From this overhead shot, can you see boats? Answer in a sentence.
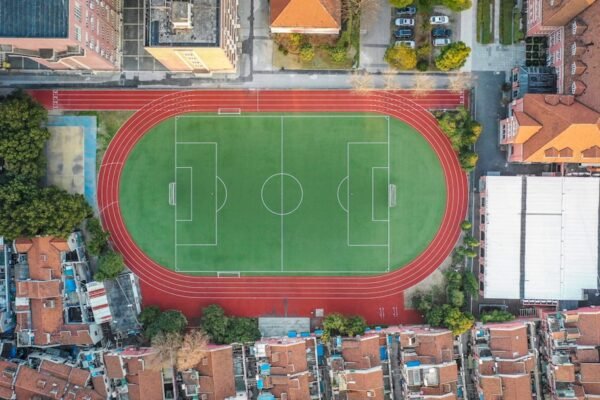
No, there isn't any boat down there.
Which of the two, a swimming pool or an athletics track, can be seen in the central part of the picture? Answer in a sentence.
Looking in the central part of the picture, you will find an athletics track.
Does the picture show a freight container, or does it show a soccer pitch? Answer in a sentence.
I can see a soccer pitch in this picture.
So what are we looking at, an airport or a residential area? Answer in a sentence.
This looks like a residential area.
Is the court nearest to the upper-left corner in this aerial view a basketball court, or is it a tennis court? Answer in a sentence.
The court nearest to the upper-left corner in the image is a basketball court.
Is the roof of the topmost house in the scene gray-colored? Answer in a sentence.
No, the roof of the topmost house is orange.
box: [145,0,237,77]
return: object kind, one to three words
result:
building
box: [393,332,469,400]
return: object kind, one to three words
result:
house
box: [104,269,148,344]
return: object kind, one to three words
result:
building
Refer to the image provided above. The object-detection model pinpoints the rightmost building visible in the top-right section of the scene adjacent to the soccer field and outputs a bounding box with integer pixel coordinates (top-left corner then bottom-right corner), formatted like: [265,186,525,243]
[500,0,600,163]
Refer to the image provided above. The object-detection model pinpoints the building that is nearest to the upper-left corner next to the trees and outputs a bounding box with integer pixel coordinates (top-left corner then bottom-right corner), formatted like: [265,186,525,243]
[0,0,121,71]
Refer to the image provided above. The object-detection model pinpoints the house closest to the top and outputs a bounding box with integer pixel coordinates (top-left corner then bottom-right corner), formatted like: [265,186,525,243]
[270,0,340,32]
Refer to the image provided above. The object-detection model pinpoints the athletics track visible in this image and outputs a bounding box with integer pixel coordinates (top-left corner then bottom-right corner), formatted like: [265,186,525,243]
[26,90,472,327]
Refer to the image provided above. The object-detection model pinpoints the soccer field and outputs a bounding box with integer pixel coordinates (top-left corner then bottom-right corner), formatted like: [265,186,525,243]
[120,112,446,276]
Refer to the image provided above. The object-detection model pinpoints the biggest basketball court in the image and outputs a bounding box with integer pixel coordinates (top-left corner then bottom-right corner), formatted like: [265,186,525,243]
[35,112,98,218]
